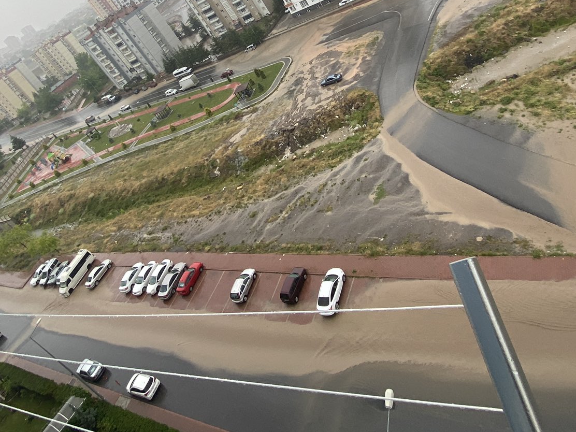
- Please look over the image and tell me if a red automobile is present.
Yes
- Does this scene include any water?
Yes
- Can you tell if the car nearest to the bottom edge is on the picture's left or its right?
left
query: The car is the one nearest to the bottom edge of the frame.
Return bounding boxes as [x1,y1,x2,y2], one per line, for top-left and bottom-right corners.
[122,372,160,403]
